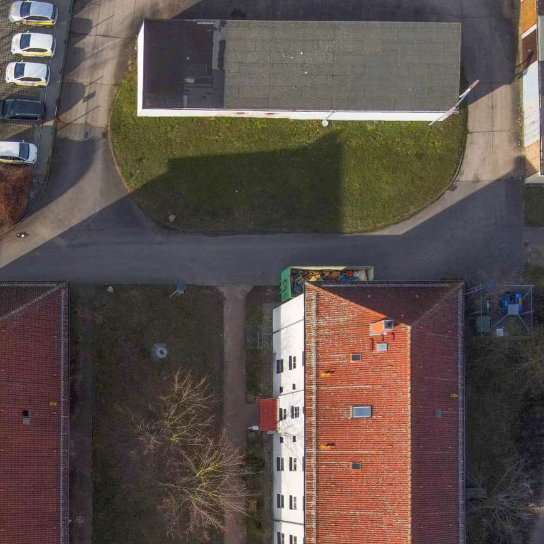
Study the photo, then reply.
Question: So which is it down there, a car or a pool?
car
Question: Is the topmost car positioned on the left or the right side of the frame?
left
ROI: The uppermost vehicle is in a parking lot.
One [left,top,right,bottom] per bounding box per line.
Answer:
[11,0,54,28]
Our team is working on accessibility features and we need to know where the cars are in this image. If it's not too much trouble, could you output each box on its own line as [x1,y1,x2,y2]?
[0,96,45,126]
[5,60,49,88]
[0,139,36,163]
[11,31,55,60]
[11,0,54,28]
